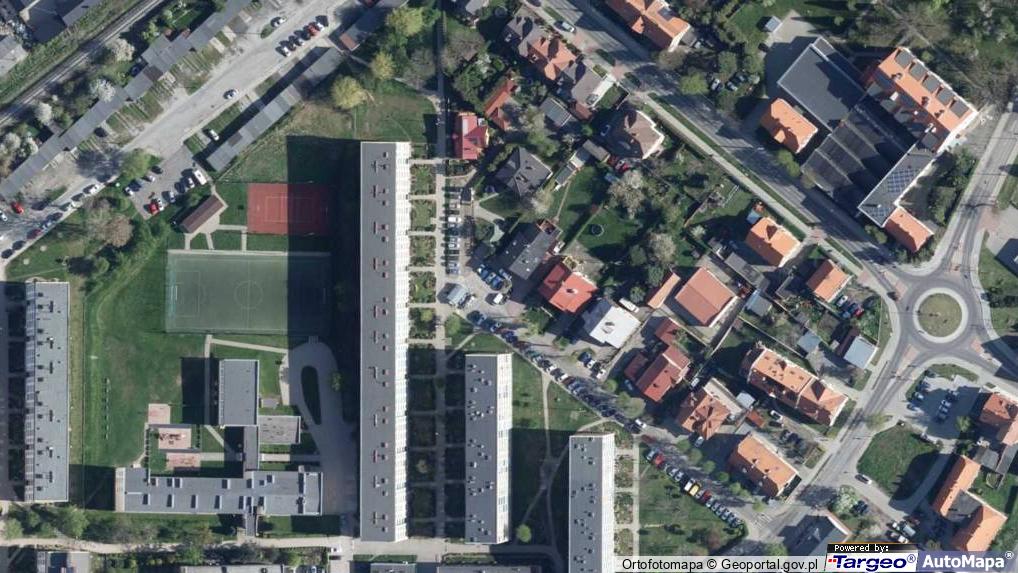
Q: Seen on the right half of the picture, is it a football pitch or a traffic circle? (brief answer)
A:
traffic circle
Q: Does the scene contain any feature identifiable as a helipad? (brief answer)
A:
No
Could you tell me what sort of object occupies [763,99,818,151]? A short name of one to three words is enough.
house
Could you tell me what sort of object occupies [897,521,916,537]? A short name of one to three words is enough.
vehicle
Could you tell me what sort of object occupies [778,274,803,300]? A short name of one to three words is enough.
shed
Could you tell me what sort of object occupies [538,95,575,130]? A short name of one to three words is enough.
building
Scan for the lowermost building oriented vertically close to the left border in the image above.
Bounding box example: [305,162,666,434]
[22,282,76,501]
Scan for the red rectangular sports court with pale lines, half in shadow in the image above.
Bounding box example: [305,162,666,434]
[248,183,328,233]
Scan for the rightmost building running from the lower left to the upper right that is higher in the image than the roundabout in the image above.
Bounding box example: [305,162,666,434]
[860,139,940,227]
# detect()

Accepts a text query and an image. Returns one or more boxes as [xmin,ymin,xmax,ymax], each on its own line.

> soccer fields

[165,255,331,335]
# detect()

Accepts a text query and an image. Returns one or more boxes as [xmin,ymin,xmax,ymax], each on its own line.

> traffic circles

[887,238,1000,379]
